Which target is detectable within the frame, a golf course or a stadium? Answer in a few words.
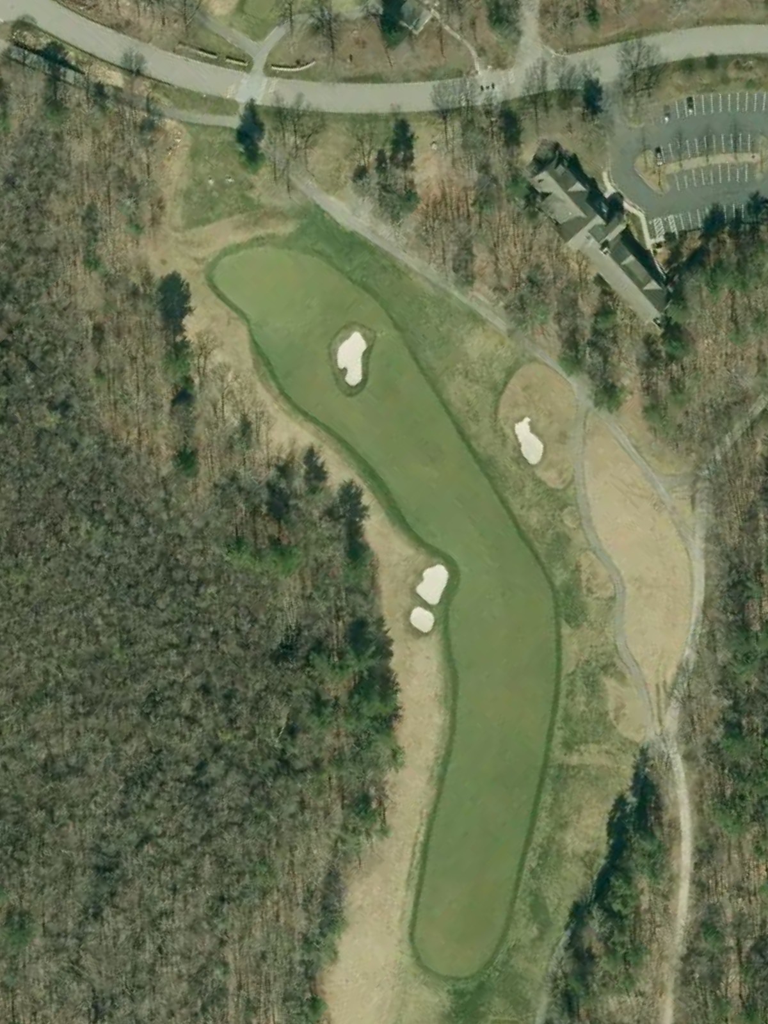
golf course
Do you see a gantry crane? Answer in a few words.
No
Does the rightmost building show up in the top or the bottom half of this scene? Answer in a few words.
top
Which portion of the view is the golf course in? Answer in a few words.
center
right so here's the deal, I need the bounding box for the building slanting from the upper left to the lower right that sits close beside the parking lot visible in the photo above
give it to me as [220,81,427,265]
[533,161,672,334]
